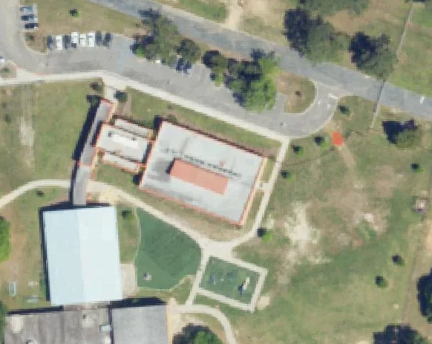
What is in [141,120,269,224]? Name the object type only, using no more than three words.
building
